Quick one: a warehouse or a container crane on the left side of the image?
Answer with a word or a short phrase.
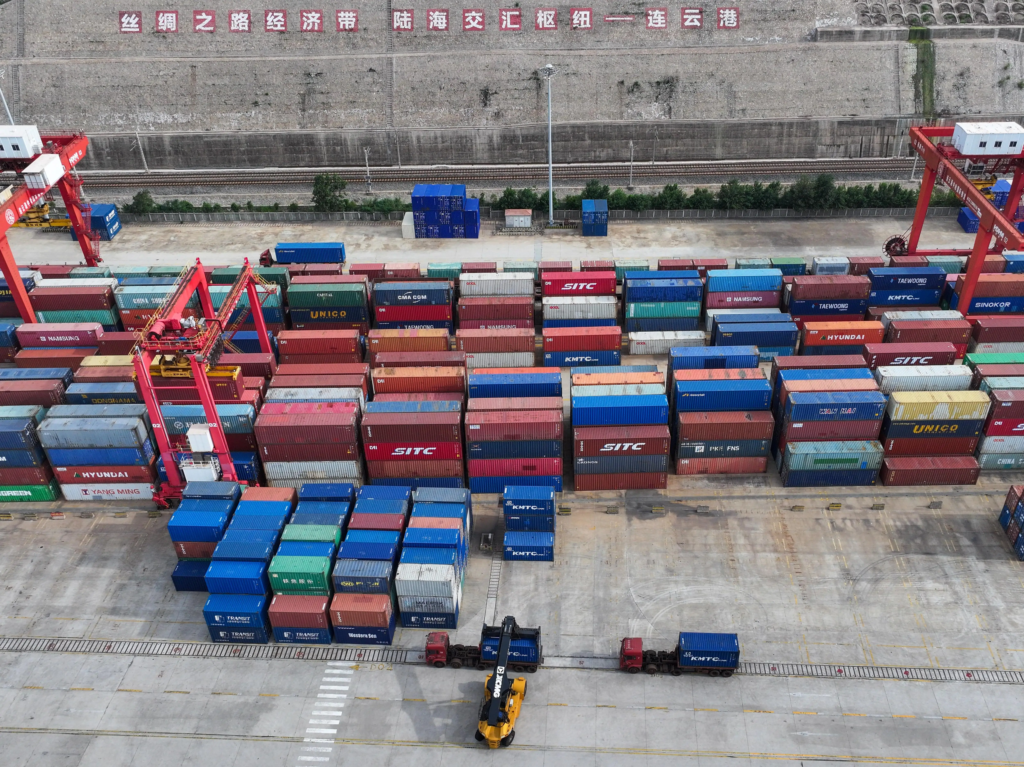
container crane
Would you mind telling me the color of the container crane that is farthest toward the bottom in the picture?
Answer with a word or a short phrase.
red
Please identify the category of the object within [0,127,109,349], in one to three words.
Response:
container crane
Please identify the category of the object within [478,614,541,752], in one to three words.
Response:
work vehicle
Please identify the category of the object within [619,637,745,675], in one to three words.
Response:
truck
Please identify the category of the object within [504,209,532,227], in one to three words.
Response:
shed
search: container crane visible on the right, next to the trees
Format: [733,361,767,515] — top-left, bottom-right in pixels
[885,117,1024,325]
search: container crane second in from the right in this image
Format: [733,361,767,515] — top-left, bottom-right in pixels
[124,257,296,509]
